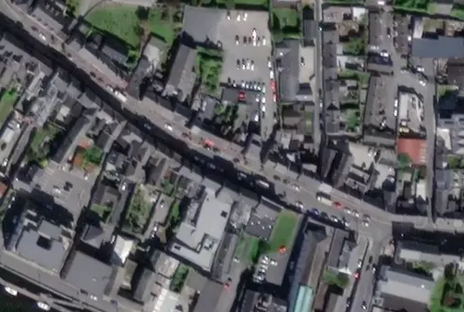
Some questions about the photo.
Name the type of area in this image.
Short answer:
residential area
